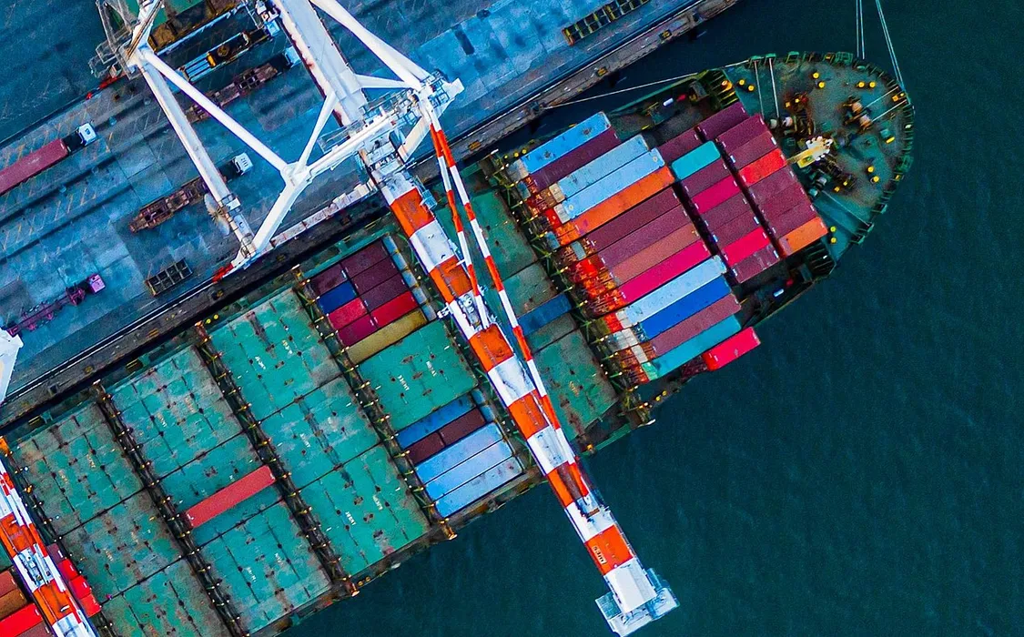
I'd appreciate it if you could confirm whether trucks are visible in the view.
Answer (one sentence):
Yes, there's a truck down there.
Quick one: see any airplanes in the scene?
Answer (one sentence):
No, I can't see a single airplane in this photo.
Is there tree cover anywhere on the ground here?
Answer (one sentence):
No, there is no tree cover in the image.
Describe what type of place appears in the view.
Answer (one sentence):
The picture captures a port.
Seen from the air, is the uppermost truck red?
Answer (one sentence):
No, the uppermost truck is blue.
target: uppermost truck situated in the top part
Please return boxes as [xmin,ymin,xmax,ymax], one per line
[178,17,284,81]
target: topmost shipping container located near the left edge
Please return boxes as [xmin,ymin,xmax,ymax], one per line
[0,139,71,197]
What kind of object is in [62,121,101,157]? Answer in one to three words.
truck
